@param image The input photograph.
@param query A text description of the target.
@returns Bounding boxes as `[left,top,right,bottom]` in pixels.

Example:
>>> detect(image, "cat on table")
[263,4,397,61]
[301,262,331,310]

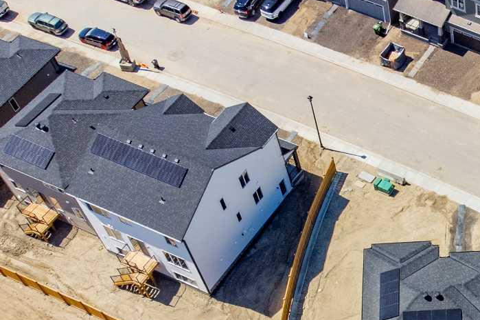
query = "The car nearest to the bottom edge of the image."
[76,28,116,55]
